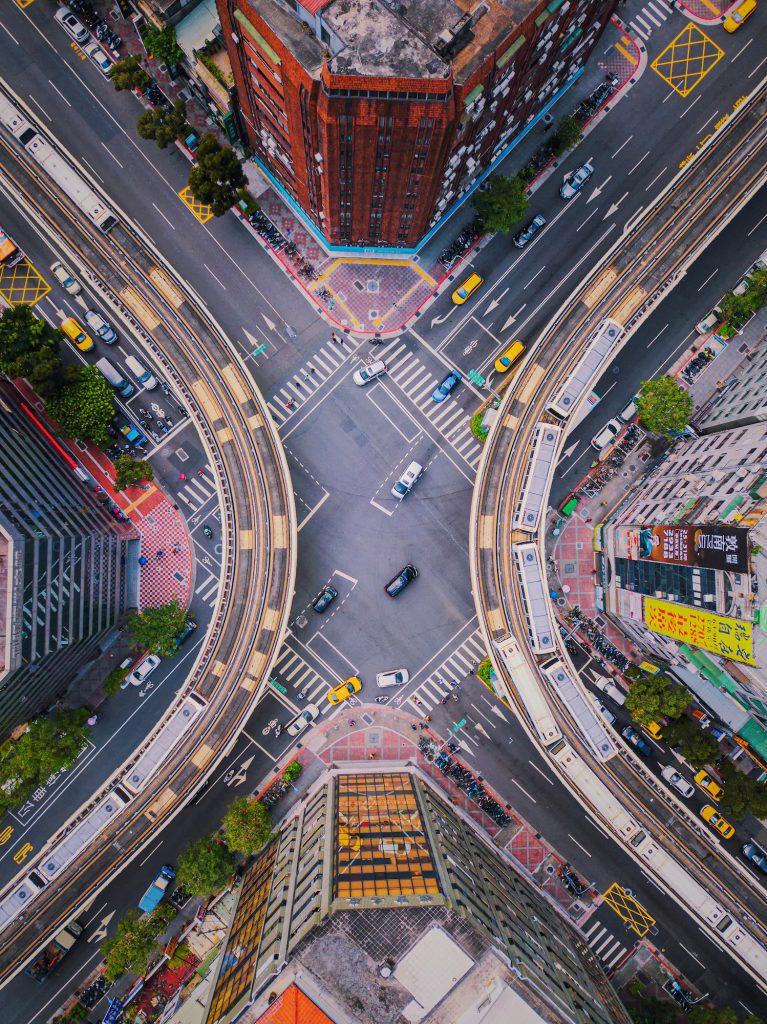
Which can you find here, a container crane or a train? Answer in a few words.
train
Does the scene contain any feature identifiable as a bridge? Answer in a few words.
Yes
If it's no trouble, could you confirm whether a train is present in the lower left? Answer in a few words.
Yes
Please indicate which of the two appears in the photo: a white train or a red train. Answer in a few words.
white train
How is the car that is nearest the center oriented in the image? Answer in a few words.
at an angle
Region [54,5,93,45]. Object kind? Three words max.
car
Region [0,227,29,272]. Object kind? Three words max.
bus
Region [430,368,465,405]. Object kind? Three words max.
car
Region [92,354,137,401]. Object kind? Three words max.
vehicle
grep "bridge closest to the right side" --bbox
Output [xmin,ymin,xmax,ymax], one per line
[469,77,767,988]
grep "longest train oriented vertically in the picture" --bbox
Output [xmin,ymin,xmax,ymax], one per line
[508,318,622,761]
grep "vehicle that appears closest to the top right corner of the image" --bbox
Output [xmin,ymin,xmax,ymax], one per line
[720,0,761,36]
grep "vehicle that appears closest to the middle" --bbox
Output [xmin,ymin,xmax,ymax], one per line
[388,458,426,499]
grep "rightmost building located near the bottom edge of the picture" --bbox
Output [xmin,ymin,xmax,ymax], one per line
[200,765,645,1024]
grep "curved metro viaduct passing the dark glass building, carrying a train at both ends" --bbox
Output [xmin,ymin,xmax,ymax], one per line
[0,77,296,988]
